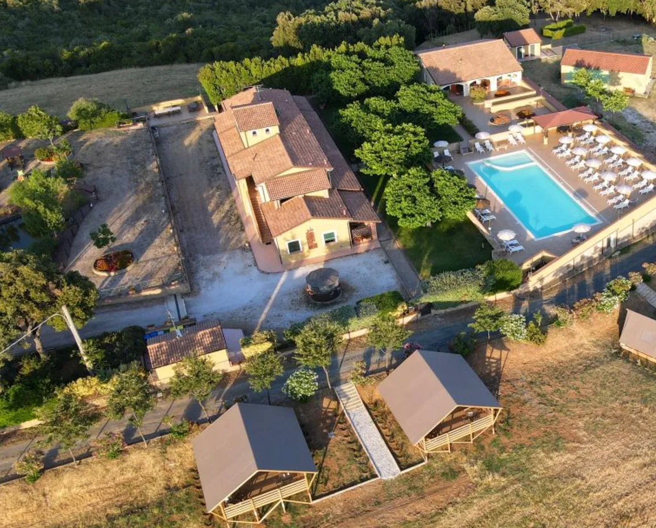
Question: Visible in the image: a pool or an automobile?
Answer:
pool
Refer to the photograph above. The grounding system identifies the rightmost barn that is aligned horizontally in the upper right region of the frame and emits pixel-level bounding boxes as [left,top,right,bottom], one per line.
[560,47,653,99]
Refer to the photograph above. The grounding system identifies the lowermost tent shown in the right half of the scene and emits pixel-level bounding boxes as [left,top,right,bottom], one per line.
[382,345,511,464]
